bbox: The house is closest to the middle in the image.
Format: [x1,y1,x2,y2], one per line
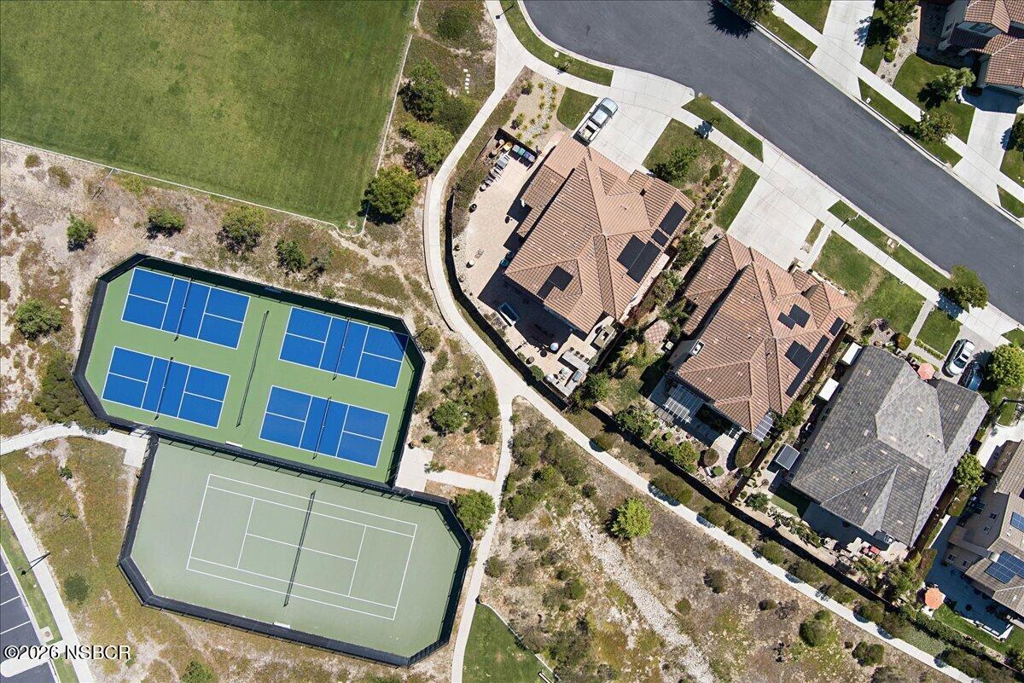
[505,134,695,333]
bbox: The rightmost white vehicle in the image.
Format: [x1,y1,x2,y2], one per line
[943,334,980,378]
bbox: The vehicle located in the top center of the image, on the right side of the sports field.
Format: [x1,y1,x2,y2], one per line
[577,96,617,145]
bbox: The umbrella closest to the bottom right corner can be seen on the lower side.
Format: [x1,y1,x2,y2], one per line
[920,587,941,607]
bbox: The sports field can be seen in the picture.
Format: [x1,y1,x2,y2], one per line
[0,0,421,237]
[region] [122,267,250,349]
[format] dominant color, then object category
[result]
blue sports court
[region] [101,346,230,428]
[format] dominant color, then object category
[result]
blue sports court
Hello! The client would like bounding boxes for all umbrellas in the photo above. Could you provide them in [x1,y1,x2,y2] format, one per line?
[913,362,933,380]
[920,587,941,607]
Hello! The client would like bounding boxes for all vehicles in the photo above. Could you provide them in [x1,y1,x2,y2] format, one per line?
[577,96,617,145]
[956,354,992,391]
[943,334,980,378]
